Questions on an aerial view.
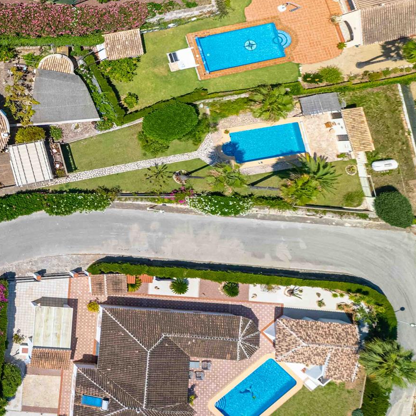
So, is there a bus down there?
No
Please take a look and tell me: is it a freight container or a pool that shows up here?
pool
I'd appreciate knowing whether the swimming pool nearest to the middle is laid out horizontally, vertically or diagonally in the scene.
horizontally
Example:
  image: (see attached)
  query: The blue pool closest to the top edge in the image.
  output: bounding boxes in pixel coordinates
[197,23,291,72]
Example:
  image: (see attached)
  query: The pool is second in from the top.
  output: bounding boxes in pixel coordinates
[223,123,307,163]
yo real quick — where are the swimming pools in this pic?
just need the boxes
[215,359,297,416]
[197,23,291,72]
[223,123,307,163]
